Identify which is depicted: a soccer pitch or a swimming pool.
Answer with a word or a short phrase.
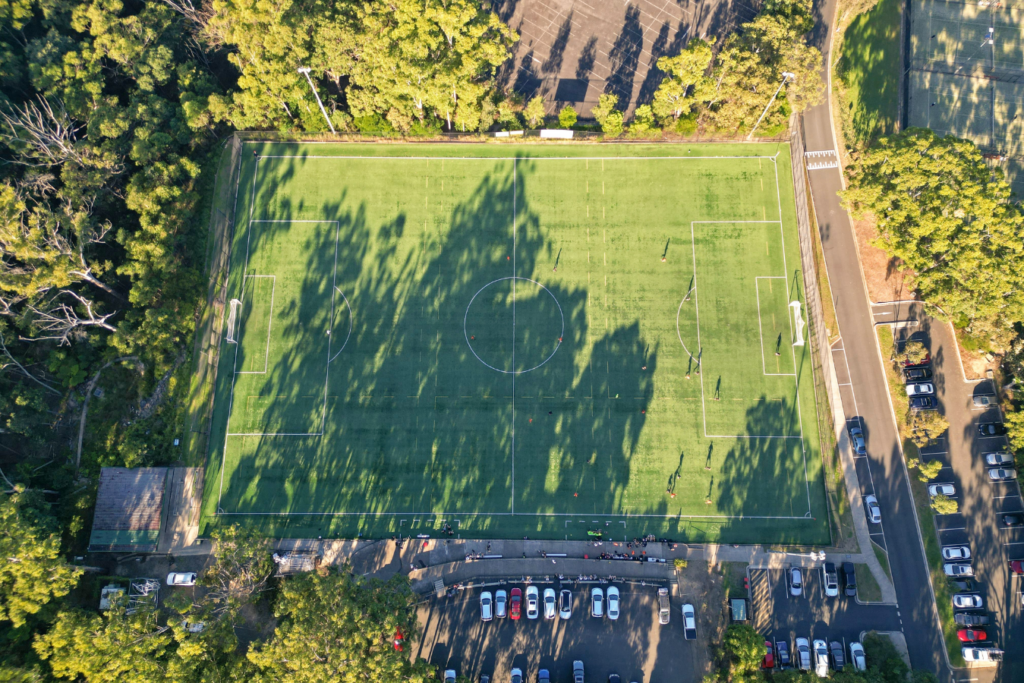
soccer pitch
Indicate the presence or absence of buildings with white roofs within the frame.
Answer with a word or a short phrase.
No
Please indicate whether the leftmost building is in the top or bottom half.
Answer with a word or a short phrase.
bottom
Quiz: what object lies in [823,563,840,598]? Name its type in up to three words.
vehicle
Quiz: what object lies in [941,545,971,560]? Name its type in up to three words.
car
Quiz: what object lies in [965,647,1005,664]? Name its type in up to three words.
vehicle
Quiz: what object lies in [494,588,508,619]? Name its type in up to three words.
car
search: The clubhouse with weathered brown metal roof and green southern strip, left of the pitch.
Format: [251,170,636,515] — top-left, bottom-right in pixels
[87,467,170,553]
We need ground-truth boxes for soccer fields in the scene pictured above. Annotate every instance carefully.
[198,142,832,544]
